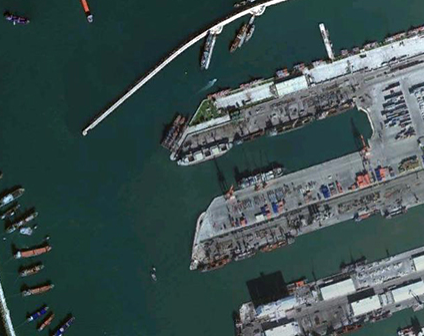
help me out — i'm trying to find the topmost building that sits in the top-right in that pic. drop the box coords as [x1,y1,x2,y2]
[310,58,354,83]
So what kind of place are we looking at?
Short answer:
port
